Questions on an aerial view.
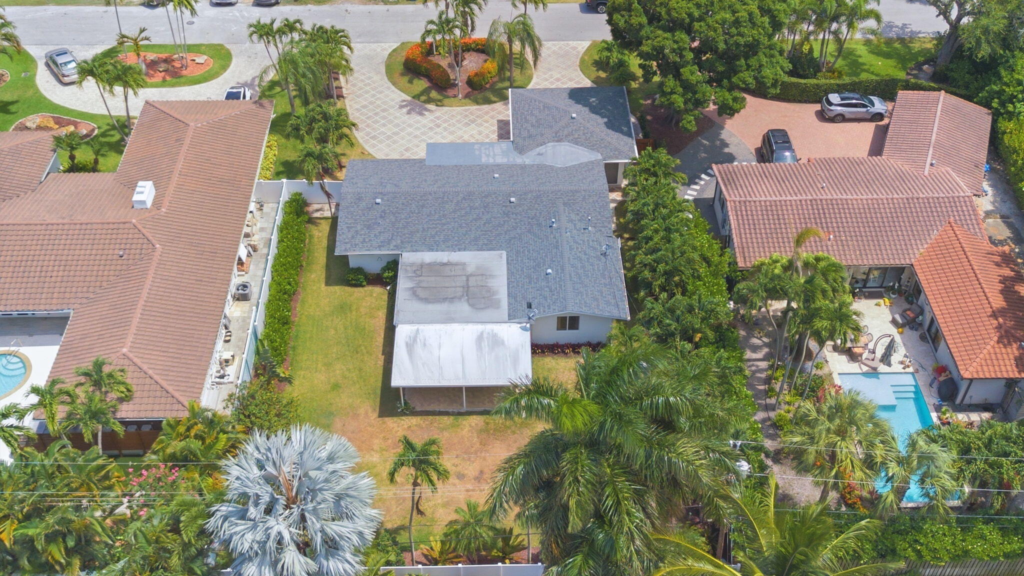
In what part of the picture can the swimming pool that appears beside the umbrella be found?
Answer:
bottom right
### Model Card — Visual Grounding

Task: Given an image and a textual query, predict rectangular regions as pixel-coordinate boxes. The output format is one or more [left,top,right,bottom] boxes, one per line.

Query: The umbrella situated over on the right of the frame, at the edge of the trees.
[864,322,911,365]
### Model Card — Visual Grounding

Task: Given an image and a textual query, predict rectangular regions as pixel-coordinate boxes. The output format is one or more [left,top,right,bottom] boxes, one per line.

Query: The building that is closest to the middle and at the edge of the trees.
[334,86,638,412]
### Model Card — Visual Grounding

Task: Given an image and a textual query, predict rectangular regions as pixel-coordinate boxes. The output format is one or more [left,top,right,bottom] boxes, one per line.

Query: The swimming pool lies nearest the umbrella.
[832,369,965,510]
